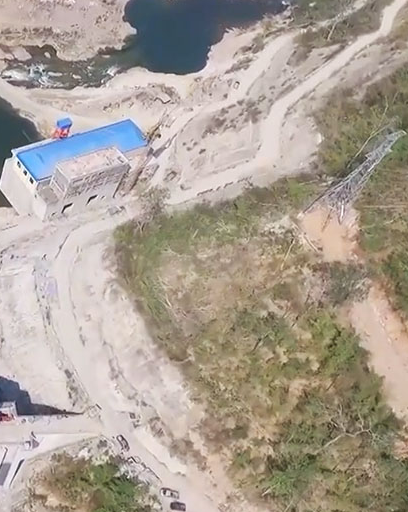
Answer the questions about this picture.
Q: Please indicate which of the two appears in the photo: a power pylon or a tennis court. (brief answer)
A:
power pylon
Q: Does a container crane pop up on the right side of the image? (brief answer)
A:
No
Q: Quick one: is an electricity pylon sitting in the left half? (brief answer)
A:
No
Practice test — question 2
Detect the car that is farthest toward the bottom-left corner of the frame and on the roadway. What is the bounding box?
[116,433,129,451]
